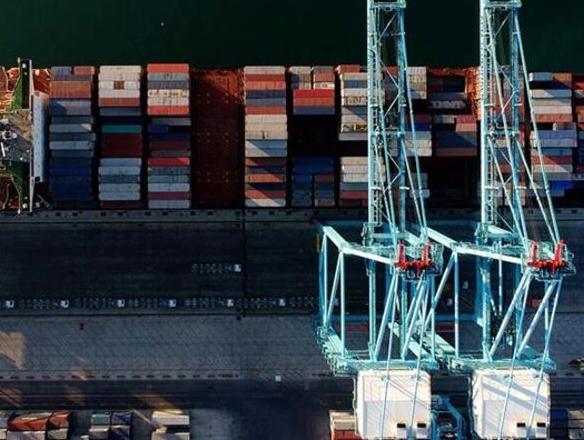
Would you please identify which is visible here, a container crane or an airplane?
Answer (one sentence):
This aerial view contains a container crane.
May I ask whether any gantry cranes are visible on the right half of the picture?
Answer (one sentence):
Yes, the scene does show a gantry crane on the right half of the picture.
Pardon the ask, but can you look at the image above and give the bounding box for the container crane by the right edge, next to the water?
[394,0,574,440]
